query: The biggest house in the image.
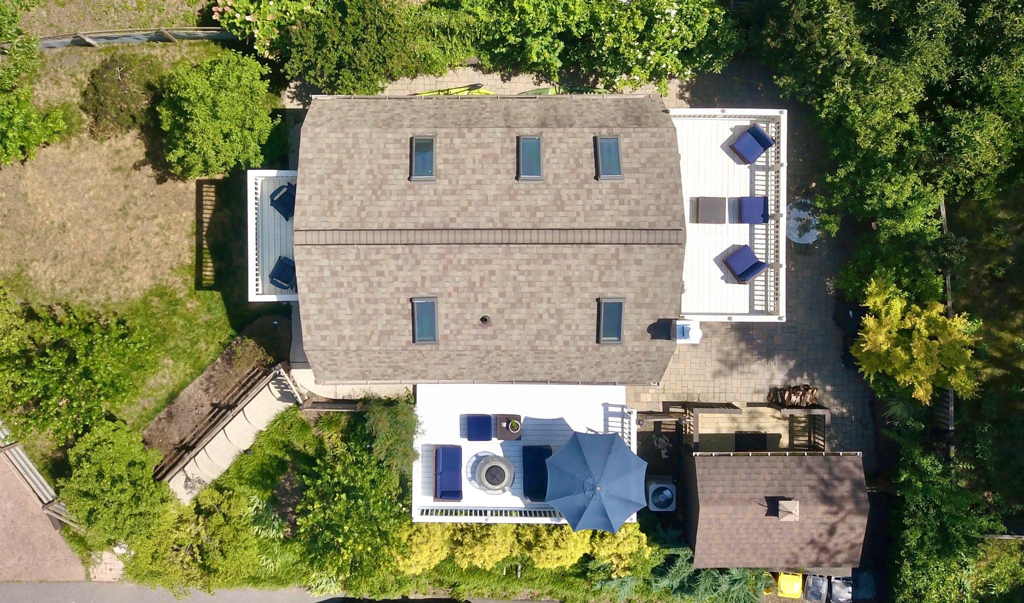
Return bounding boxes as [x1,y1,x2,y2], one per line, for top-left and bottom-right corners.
[295,93,701,386]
